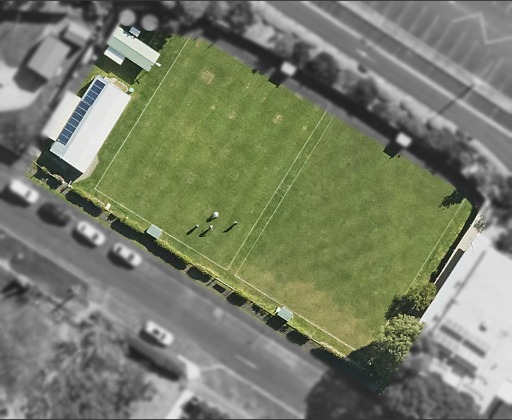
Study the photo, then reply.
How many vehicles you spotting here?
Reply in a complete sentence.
There are 5 vehicles in the image.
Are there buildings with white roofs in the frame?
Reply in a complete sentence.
Yes, a building with a white roof is visible in the scene.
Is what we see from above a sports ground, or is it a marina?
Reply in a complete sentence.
The area seen from above is a sports ground.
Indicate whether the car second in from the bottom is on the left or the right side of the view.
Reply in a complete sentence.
The car second in from the bottom sits on the left side.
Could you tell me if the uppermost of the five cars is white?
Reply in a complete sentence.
Yes, the uppermost of the five cars is white.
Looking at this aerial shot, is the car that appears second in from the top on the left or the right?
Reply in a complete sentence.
The car that appears second in from the top appears in the left half of the scene.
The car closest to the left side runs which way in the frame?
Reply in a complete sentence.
What the image shows is the car closest to the left side lying diagonally.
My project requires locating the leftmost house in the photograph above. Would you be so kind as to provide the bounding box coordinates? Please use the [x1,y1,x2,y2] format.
[27,34,70,81]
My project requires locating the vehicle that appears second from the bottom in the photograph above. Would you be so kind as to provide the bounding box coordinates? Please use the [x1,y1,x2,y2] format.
[112,243,142,266]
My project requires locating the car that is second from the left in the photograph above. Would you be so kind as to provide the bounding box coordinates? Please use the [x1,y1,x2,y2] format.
[40,200,68,224]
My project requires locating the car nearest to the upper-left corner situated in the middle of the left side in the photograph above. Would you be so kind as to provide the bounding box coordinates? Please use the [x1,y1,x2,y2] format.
[8,178,40,205]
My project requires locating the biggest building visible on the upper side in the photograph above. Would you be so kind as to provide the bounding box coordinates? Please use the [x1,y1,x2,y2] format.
[42,76,132,174]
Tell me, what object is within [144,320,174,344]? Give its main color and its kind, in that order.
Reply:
white car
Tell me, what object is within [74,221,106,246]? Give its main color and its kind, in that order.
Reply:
white car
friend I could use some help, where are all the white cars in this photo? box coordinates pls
[74,221,106,246]
[8,178,40,205]
[112,243,142,266]
[144,320,174,344]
